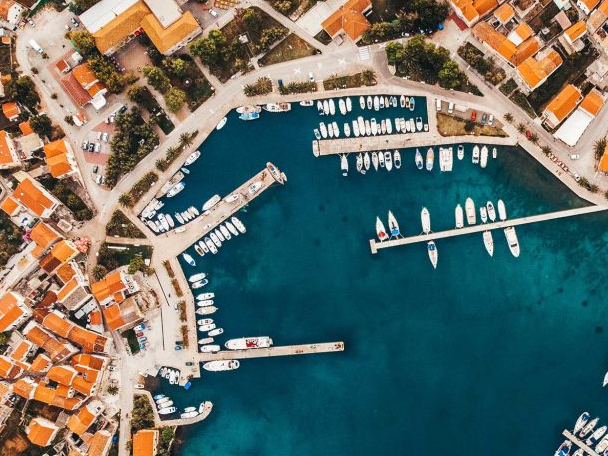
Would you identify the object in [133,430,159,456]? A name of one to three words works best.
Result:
house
